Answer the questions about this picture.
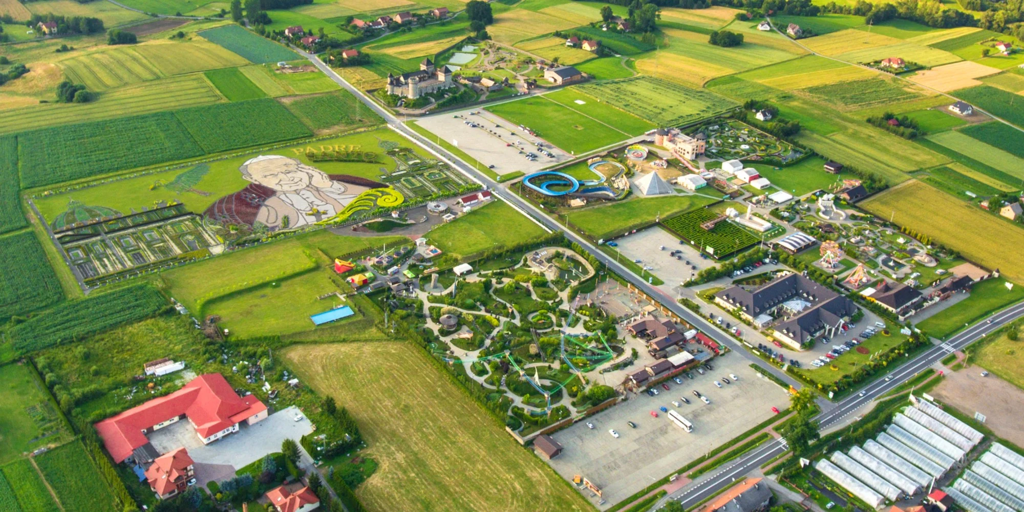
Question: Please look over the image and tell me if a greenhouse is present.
Yes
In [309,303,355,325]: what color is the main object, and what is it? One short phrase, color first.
blue swimming pool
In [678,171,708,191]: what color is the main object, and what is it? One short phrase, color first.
white tent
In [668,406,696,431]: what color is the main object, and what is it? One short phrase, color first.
white bus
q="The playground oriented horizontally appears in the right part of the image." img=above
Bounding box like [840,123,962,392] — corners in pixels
[577,278,684,324]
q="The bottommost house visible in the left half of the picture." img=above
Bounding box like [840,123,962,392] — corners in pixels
[265,483,318,512]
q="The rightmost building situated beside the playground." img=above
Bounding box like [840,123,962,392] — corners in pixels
[714,268,867,350]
